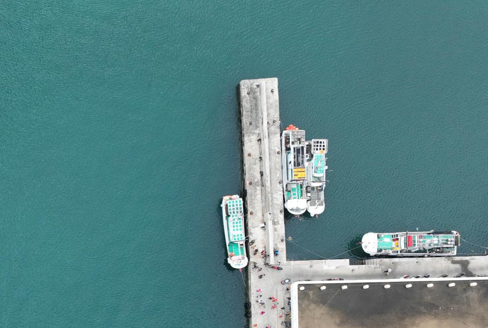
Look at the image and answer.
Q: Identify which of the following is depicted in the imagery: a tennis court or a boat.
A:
boat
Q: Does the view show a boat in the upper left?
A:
No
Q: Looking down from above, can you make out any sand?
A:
No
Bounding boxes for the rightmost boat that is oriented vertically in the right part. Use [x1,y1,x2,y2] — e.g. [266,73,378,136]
[306,139,332,225]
